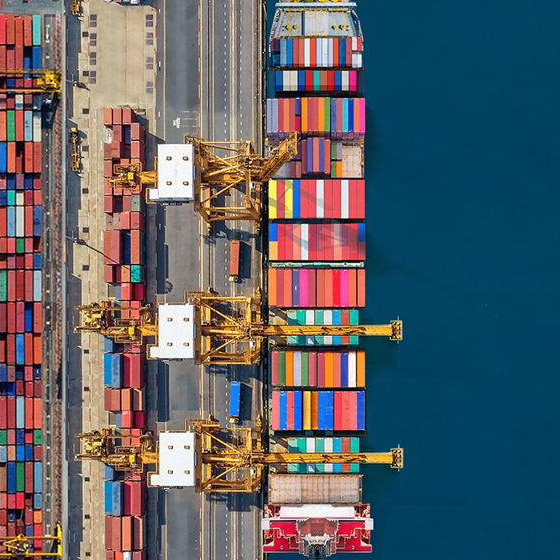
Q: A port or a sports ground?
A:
port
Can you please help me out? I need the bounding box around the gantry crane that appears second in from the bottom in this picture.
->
[73,403,403,495]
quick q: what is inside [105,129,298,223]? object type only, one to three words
container crane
